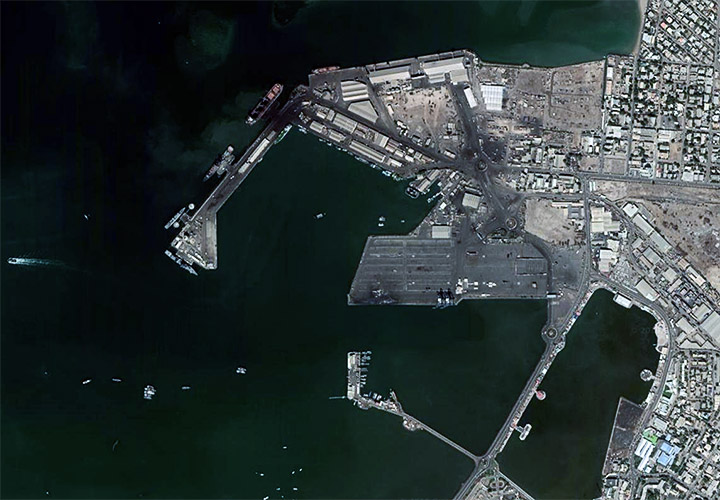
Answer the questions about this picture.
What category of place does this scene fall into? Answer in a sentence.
The area seen from above is a port.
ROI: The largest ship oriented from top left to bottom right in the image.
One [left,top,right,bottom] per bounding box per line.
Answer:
[165,250,198,275]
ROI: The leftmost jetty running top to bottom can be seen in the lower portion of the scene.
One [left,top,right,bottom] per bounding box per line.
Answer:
[347,352,361,400]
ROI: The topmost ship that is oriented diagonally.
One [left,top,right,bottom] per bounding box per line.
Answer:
[245,84,281,125]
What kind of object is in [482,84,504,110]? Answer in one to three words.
building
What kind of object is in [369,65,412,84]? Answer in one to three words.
building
